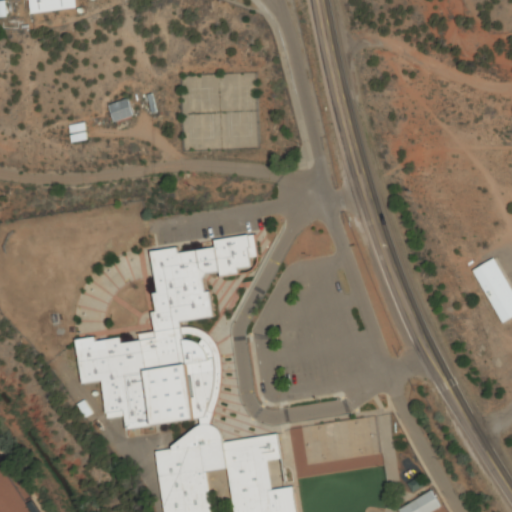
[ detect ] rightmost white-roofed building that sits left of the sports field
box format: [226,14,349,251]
[224,434,297,512]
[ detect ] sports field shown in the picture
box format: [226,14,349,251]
[299,466,388,512]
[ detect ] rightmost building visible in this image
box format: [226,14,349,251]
[474,258,512,322]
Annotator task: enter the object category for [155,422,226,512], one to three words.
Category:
building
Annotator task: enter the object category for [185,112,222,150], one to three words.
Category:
sports court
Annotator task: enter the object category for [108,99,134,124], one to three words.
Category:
house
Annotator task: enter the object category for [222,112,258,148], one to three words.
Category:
sports court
